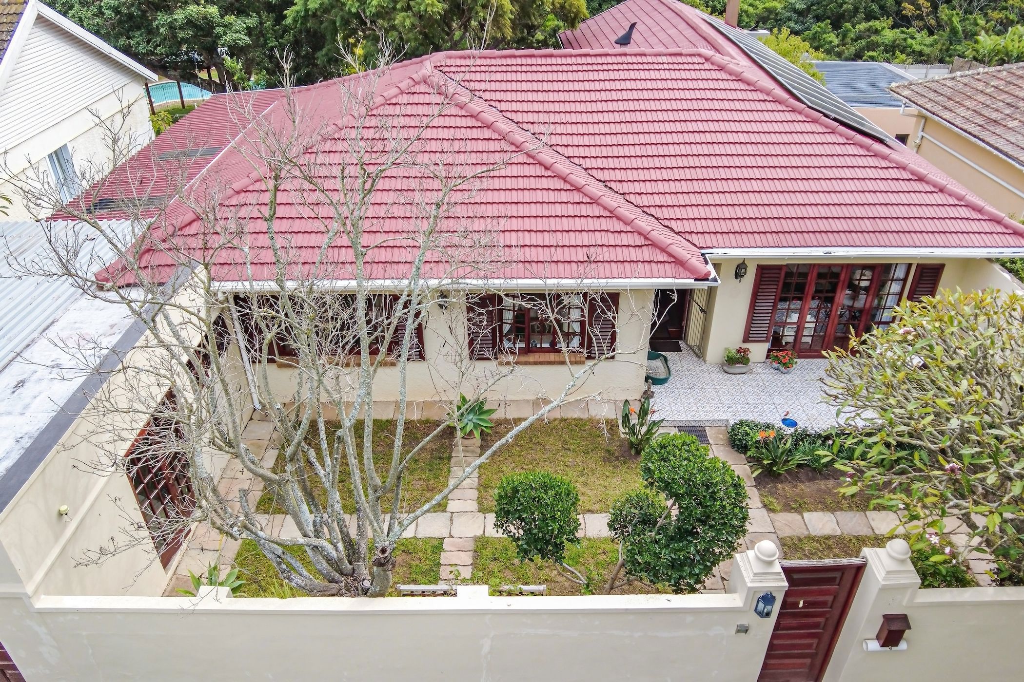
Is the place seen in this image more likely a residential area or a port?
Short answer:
residential area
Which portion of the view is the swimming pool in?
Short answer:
top left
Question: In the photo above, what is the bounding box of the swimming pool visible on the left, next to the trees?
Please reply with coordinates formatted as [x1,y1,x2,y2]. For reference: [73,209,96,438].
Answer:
[142,79,271,101]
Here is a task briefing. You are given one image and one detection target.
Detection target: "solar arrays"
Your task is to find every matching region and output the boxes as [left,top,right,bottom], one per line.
[689,0,907,148]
